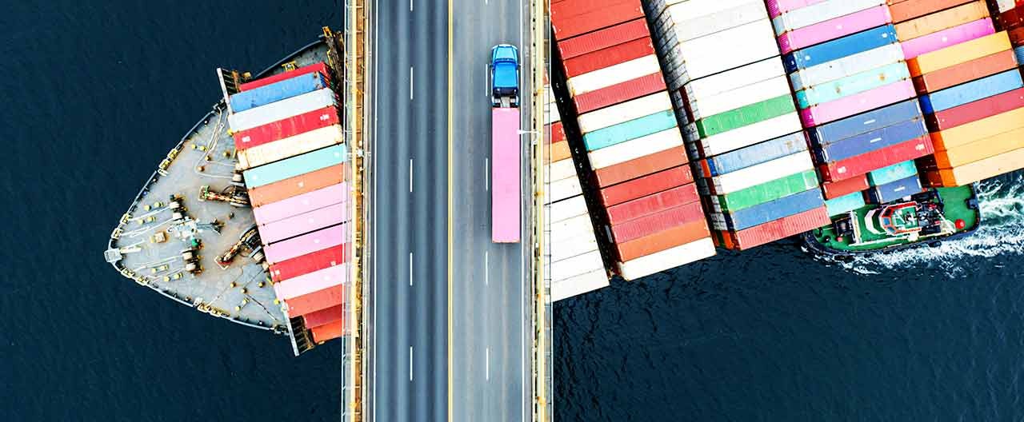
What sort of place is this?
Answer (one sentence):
The picture captures a port.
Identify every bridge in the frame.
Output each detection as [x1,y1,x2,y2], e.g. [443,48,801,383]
[341,0,555,422]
